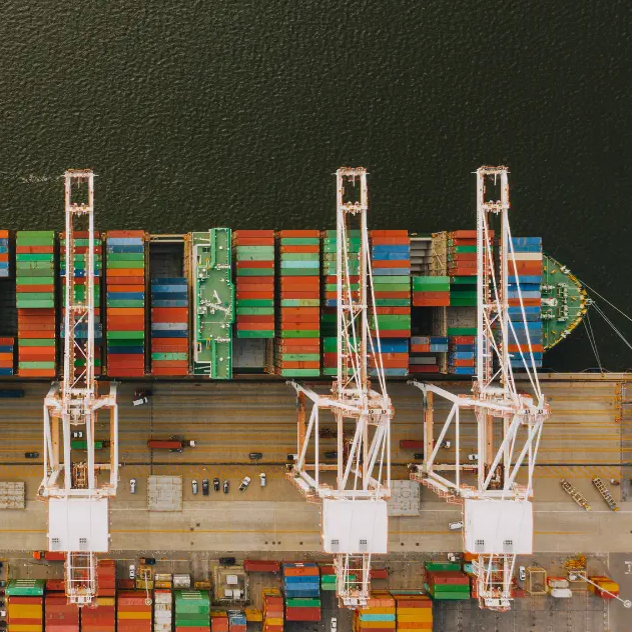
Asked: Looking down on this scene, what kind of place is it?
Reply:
port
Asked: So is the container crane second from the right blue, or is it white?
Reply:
white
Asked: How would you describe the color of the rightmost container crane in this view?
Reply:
white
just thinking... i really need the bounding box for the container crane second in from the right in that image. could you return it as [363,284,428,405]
[283,167,398,608]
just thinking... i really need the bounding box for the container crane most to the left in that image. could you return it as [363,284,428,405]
[40,170,124,608]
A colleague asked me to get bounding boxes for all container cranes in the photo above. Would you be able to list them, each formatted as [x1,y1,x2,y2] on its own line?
[40,170,124,608]
[283,167,398,608]
[404,166,552,608]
